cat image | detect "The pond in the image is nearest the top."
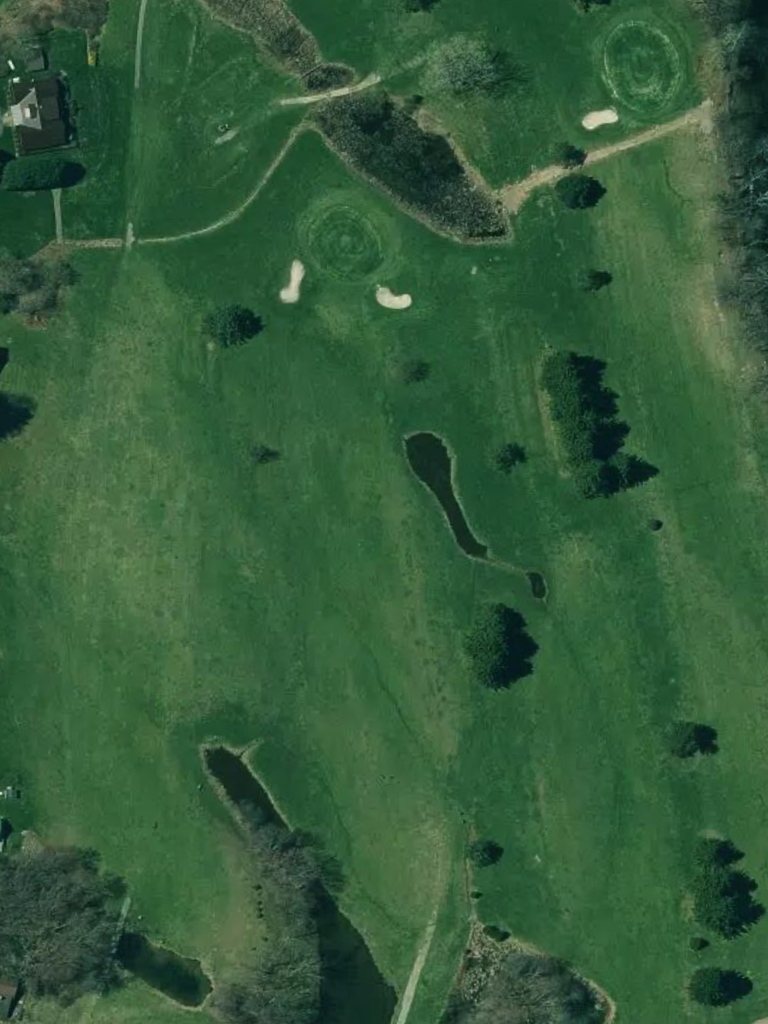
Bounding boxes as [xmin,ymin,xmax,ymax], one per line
[405,432,489,557]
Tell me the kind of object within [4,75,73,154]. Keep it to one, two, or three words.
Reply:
house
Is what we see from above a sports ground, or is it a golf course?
golf course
